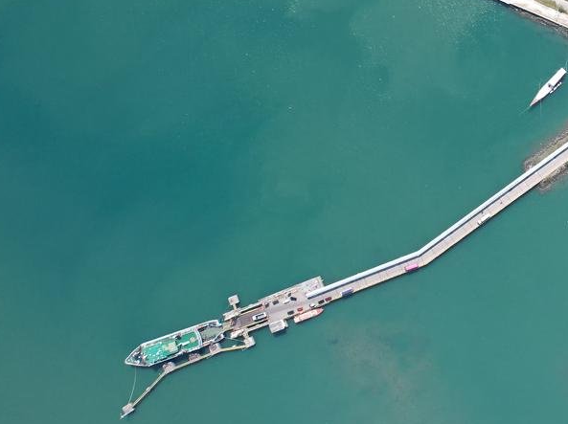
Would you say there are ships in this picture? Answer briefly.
Yes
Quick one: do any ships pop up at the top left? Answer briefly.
No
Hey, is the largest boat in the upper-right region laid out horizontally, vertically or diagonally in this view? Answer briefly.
diagonally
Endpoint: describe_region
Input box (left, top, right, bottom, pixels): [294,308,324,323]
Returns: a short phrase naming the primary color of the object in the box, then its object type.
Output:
white ship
